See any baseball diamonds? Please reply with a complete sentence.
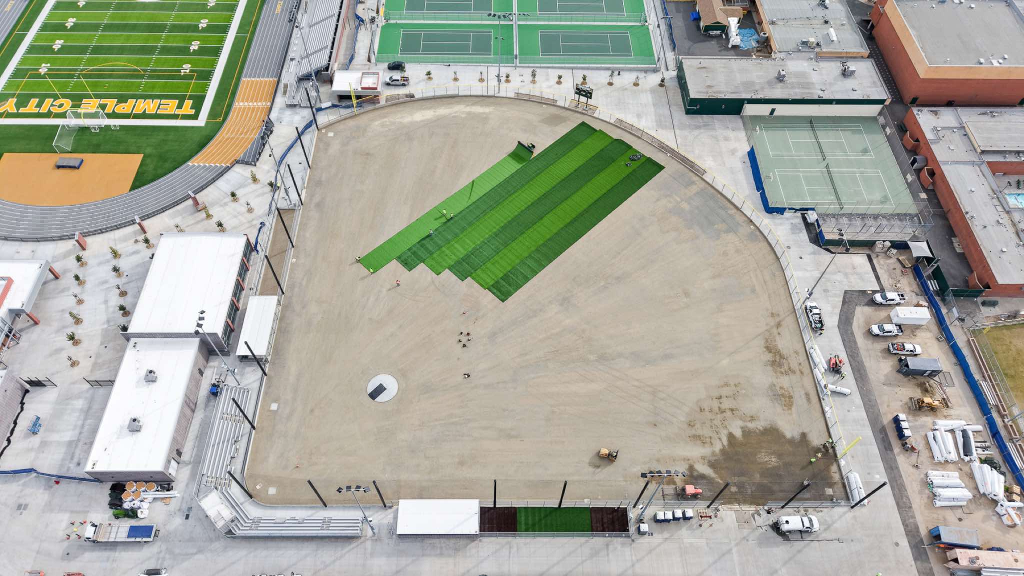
Yes, the frame does contain a baseball diamond.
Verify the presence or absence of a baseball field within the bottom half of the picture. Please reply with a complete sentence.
Yes, a baseball field appears within the bottom half of the picture.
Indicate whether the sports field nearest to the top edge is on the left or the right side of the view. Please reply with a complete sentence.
The sports field nearest to the top edge is on the left side of the image.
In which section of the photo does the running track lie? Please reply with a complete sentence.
The running track is located in the top left region of the scene.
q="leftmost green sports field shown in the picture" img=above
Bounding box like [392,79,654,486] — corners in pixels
[0,0,268,205]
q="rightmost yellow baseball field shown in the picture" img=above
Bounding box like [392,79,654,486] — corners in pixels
[970,325,1024,443]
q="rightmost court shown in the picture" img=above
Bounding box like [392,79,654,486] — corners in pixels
[742,115,922,215]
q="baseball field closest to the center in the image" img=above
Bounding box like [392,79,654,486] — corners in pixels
[246,94,855,506]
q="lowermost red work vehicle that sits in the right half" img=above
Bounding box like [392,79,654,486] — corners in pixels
[684,485,706,500]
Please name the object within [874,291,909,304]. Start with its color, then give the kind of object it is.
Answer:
white vehicle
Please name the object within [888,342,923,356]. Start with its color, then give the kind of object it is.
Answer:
white vehicle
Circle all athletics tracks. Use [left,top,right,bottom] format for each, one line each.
[0,0,301,238]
